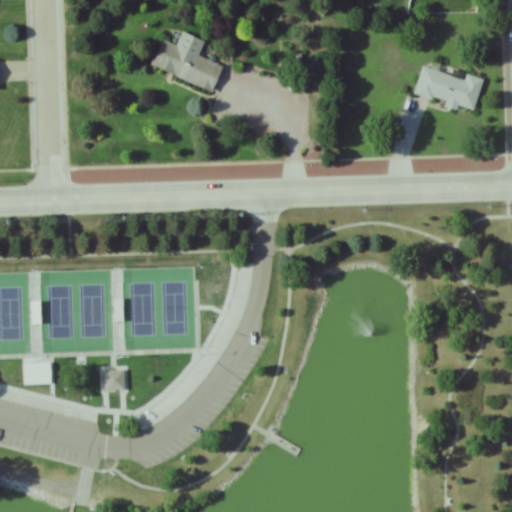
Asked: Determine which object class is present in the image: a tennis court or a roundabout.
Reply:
tennis court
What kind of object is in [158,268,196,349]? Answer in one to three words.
tennis court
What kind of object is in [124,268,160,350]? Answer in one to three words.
tennis court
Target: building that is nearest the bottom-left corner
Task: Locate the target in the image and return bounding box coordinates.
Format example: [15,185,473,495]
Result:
[22,361,52,386]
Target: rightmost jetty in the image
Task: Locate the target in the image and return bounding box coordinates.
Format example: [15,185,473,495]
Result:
[254,424,302,456]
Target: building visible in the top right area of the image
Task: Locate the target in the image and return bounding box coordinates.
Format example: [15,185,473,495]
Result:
[414,66,484,110]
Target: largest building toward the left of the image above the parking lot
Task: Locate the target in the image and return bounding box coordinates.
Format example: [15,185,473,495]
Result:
[152,32,224,90]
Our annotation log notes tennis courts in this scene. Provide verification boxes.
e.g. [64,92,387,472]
[76,270,112,352]
[0,272,30,354]
[158,268,196,349]
[41,271,78,353]
[124,268,160,350]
